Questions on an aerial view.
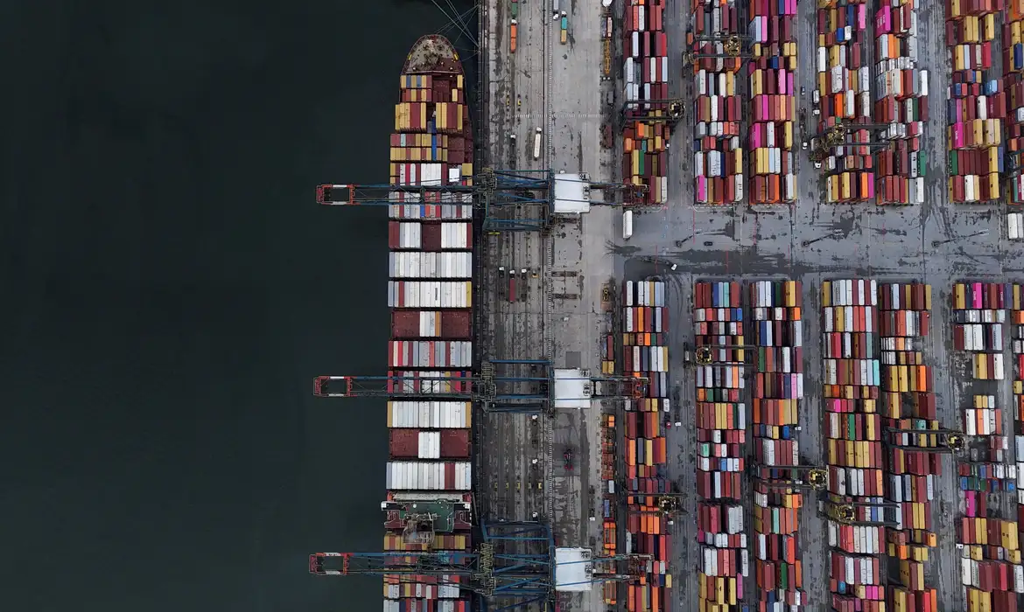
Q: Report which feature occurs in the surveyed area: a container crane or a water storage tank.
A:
container crane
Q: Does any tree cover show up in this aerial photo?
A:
No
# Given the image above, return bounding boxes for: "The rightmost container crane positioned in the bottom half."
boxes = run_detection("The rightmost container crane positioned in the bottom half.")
[862,418,967,452]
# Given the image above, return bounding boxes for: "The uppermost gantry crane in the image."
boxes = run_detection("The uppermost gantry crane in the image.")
[679,34,756,79]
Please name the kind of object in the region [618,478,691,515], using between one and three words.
container crane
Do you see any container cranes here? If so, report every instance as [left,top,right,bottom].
[740,453,828,488]
[313,347,657,416]
[679,34,756,79]
[862,418,967,452]
[311,503,659,597]
[618,478,691,515]
[805,122,894,162]
[681,340,759,370]
[809,487,901,528]
[316,165,655,245]
[617,97,688,137]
